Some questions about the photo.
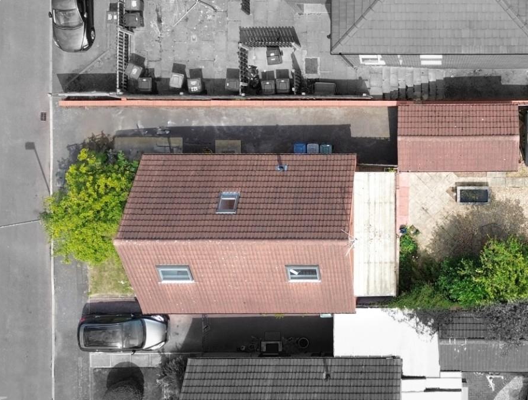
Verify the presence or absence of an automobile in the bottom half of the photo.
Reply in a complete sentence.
Yes, an automobile is visible in the bottom half of the photo.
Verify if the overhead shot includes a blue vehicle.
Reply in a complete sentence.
No, there isn't any blue vehicle down there.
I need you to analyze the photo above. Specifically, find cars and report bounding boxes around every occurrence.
[46,0,98,54]
[74,310,173,358]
